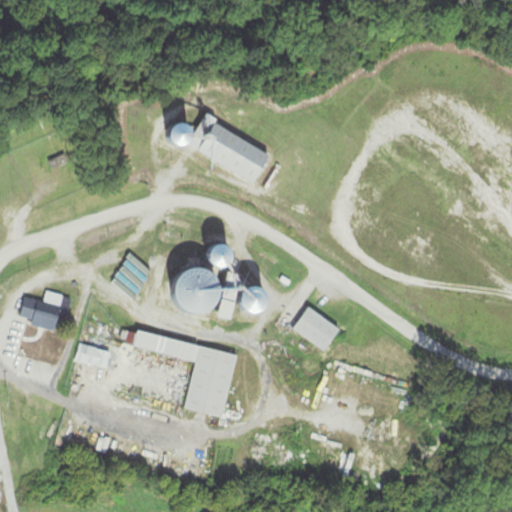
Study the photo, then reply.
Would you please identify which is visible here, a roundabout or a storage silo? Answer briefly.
storage silo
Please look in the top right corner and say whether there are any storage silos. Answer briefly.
No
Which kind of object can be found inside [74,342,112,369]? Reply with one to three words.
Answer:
shed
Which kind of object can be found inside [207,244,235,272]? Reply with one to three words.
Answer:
silo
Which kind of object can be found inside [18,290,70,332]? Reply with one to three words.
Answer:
house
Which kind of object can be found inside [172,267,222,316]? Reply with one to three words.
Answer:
silo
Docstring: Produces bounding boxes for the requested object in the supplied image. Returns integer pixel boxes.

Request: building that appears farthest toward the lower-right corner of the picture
[294,308,340,350]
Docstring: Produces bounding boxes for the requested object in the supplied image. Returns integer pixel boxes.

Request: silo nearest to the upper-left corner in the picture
[168,122,194,150]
